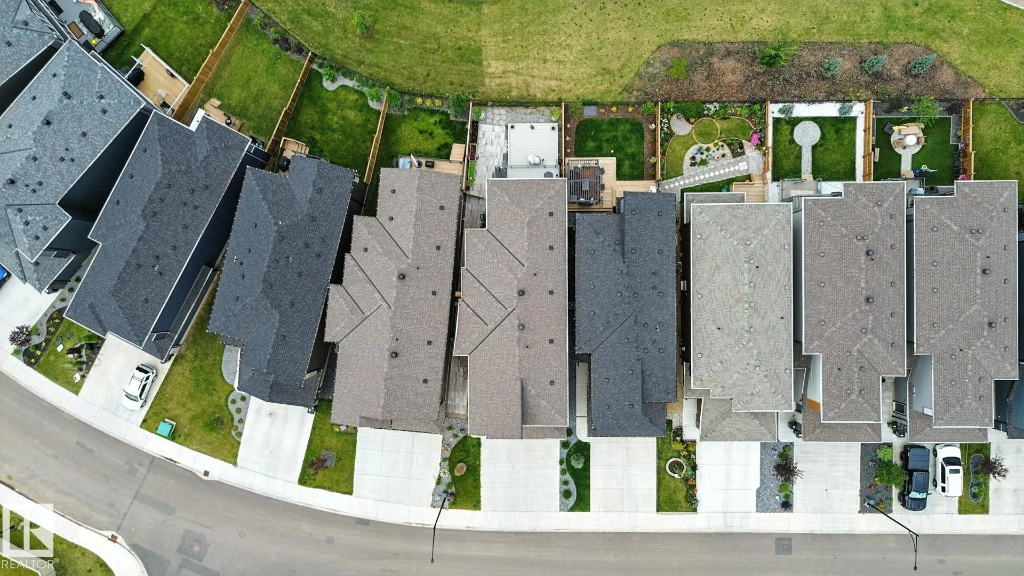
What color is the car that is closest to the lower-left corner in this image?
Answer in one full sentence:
From above, the car that is closest to the lower-left corner appears white.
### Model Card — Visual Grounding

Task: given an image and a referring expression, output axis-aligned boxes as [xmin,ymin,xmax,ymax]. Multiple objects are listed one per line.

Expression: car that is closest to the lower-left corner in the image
[118,362,158,415]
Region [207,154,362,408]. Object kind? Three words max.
house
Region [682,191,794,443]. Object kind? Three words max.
house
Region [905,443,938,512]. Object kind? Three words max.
truck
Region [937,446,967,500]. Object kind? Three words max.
car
